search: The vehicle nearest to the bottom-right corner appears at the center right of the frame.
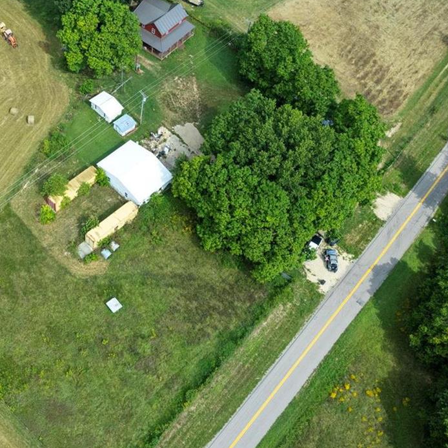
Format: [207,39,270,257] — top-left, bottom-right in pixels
[323,247,343,275]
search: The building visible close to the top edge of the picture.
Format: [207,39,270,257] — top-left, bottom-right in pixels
[133,0,195,61]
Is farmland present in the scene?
Yes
